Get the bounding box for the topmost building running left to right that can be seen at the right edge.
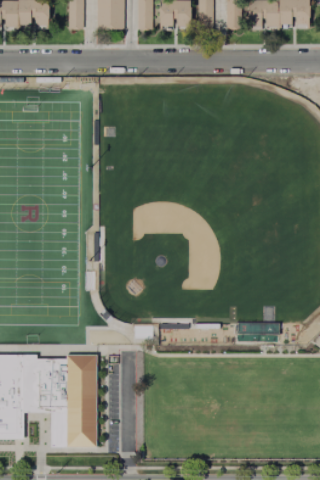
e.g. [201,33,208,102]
[242,0,310,30]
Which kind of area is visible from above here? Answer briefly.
sports ground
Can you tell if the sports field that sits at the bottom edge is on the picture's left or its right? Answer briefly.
right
